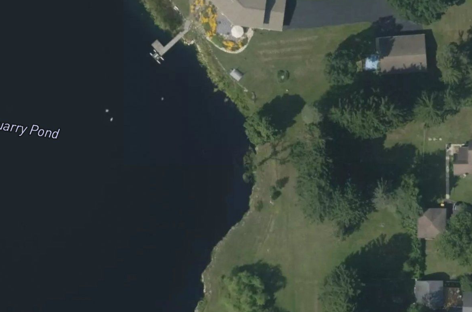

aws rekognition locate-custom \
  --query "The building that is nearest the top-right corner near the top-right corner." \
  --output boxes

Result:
[377,34,427,75]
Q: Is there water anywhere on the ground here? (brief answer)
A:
Yes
